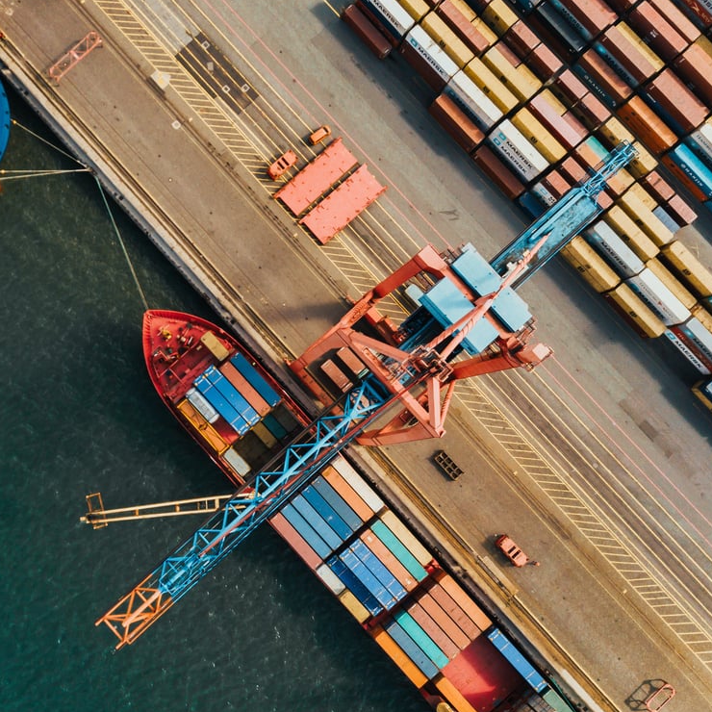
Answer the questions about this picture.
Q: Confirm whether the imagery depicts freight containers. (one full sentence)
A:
Yes, there is a freight container in the image.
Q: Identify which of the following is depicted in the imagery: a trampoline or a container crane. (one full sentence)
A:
It is a container crane that can be seen here.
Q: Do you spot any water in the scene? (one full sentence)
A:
Yes, the picture does contain water.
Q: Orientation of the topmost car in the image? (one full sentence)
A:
The topmost car runs on a diagonal in the image.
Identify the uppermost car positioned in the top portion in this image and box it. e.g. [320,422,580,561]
[304,130,328,150]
